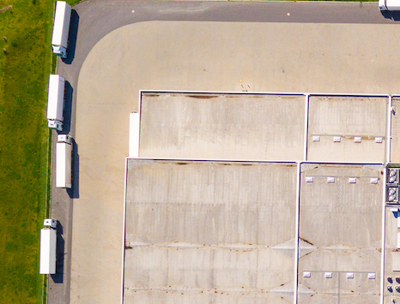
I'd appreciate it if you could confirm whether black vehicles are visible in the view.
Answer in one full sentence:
No, there's no black vehicle here.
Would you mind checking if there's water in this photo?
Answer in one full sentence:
No, the scene doesn't show any water.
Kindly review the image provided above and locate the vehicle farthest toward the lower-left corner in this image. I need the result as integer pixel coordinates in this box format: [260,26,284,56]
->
[40,219,59,275]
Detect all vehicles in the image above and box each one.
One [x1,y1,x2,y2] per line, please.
[57,134,74,190]
[377,0,400,11]
[40,219,59,275]
[48,73,66,132]
[52,0,74,58]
